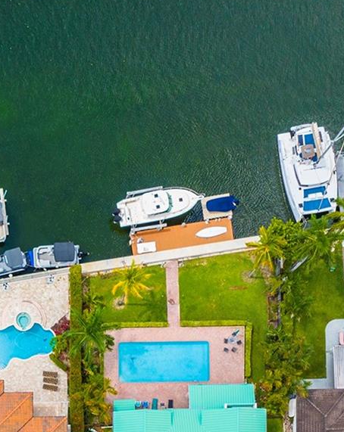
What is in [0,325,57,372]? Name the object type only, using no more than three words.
swimming pool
